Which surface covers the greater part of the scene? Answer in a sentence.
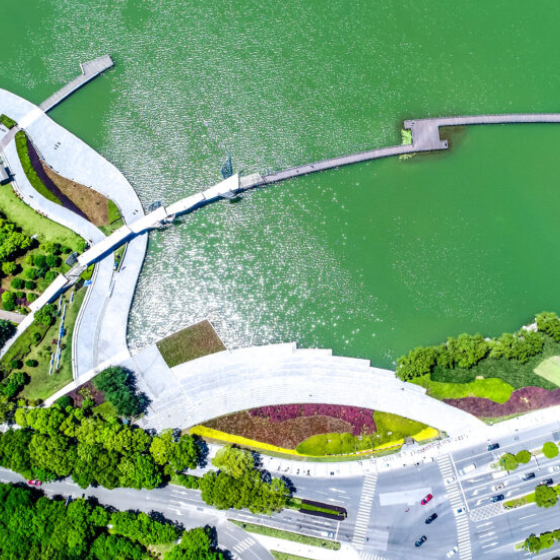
For the most part, this view shows water.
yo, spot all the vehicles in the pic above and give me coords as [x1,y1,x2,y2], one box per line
[415,536,427,547]
[493,483,506,491]
[459,463,479,474]
[446,546,459,557]
[420,494,432,504]
[491,468,509,479]
[27,478,41,485]
[541,477,554,485]
[522,472,536,480]
[491,494,504,502]
[425,513,438,524]
[454,506,467,514]
[324,531,337,538]
[487,442,501,450]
